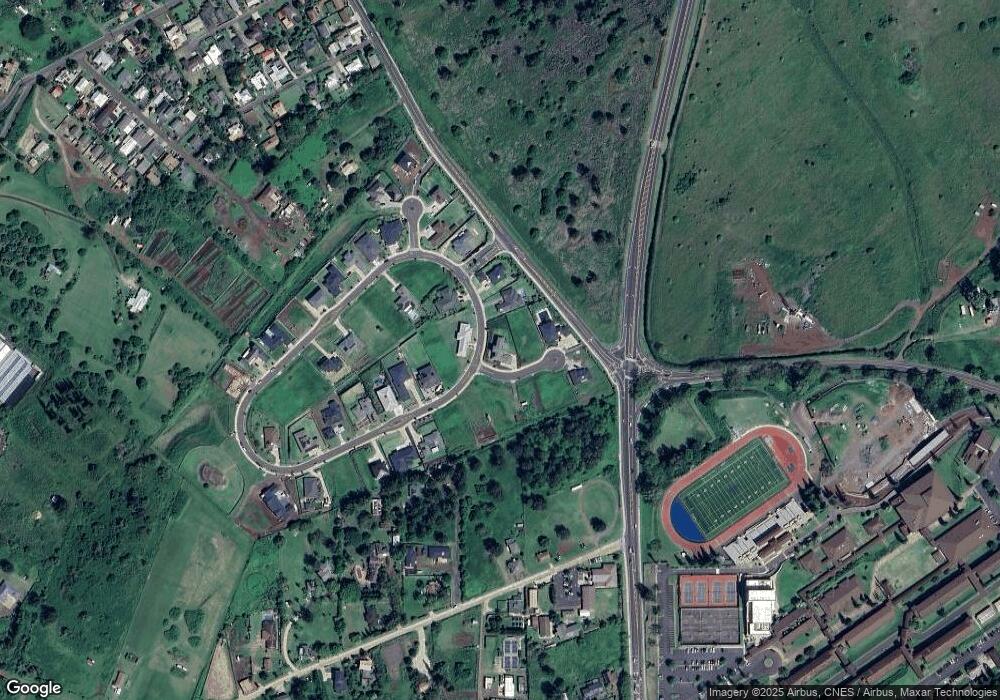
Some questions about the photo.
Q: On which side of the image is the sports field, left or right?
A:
right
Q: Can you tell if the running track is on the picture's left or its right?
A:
right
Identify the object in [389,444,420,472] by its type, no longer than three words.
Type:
house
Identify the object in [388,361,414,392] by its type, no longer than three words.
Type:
house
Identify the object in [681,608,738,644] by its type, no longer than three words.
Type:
sports court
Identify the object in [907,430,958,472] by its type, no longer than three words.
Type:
building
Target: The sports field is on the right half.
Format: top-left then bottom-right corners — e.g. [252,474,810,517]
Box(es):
[676,437,791,542]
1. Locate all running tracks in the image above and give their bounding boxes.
[662,425,810,551]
